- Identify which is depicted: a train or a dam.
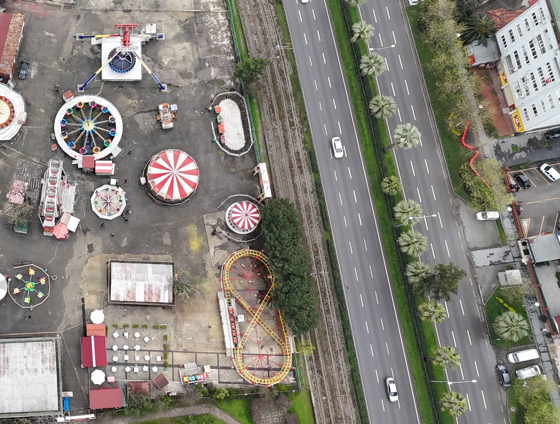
train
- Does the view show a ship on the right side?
No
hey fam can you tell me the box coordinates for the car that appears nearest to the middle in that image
[330,136,343,159]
